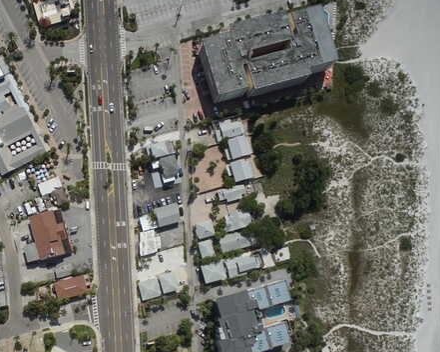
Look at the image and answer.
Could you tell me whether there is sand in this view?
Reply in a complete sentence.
Yes, there's sand in this view.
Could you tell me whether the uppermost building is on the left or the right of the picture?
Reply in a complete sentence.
You can find the uppermost building on the left side of the picture.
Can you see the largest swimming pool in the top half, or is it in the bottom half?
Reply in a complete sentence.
The largest swimming pool is in the bottom half of the image.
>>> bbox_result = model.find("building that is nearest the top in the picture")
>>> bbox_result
[35,0,70,27]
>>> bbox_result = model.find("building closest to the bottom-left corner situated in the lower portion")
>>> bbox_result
[53,275,87,300]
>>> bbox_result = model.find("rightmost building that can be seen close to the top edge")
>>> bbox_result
[197,4,338,102]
